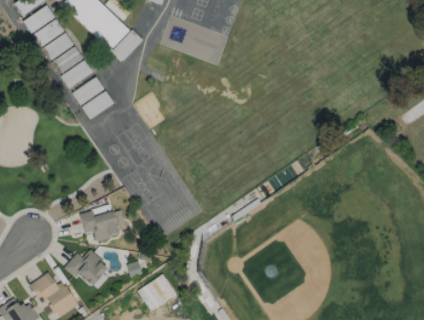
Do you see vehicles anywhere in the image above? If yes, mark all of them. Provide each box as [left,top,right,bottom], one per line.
[26,213,40,219]
[0,293,6,304]
[62,246,73,257]
[70,220,82,225]
[170,300,182,310]
[54,220,65,226]
[58,252,70,262]
[1,288,10,300]
[60,224,72,229]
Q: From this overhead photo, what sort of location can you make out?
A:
sports ground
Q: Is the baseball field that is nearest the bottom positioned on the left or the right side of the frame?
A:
right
